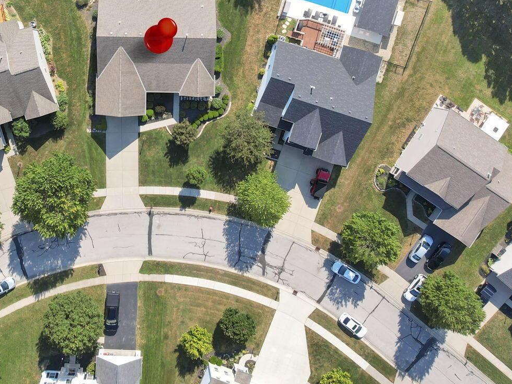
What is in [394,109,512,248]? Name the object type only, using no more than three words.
house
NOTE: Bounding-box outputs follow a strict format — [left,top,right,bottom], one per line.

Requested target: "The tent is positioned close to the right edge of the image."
[476,110,509,142]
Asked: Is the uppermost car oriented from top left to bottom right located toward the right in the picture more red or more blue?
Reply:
blue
